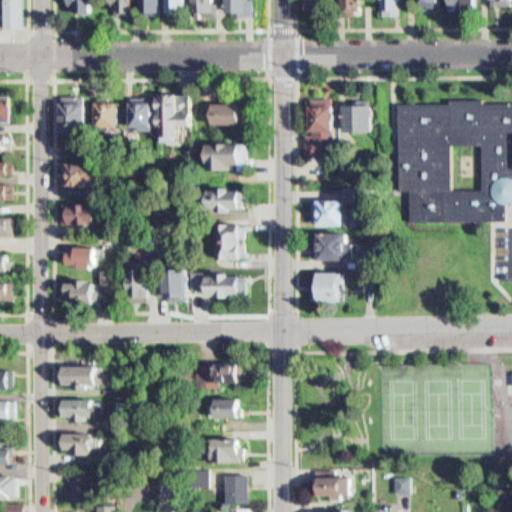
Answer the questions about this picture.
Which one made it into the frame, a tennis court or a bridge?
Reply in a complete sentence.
Looking from above, you can make out a tennis court.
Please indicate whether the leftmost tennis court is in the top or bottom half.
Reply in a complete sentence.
The leftmost tennis court sits in the bottom half of the picture.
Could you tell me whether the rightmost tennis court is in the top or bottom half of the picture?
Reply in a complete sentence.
It is in the bottom half that the rightmost tennis court appears.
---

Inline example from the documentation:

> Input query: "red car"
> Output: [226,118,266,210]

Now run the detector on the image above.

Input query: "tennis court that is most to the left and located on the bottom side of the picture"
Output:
[382,364,422,453]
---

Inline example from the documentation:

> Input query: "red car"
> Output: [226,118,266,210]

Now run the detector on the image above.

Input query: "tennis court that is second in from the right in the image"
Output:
[422,364,456,453]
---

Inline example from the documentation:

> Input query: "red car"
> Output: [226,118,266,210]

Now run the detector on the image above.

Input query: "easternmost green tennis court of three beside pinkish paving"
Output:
[456,364,492,453]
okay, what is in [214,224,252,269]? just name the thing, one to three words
house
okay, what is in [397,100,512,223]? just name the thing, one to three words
building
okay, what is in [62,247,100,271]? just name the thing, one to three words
house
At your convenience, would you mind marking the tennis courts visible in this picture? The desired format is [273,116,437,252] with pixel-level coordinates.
[456,364,492,453]
[382,364,422,453]
[422,364,456,453]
